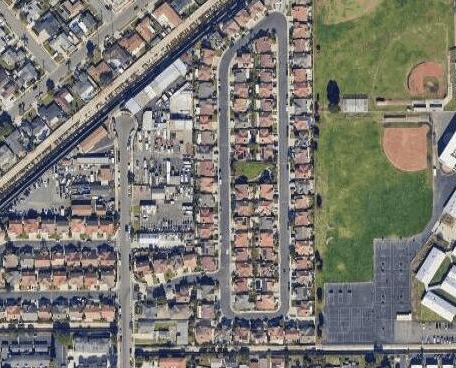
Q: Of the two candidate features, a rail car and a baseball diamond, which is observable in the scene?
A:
baseball diamond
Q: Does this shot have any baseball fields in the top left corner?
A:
No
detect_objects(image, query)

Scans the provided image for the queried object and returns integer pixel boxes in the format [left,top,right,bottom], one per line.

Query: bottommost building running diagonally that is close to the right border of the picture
[420,287,456,323]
